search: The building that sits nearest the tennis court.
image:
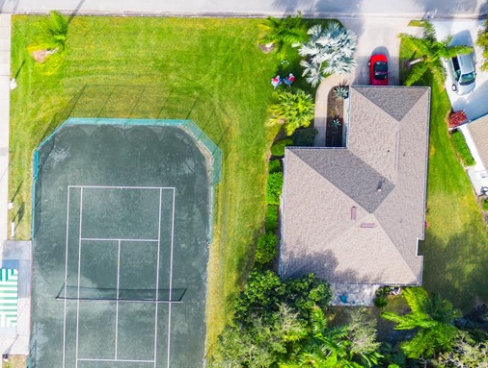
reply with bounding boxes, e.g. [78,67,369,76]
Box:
[273,83,431,288]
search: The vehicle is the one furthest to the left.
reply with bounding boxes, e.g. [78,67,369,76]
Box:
[368,53,392,84]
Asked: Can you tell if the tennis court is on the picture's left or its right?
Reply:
left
